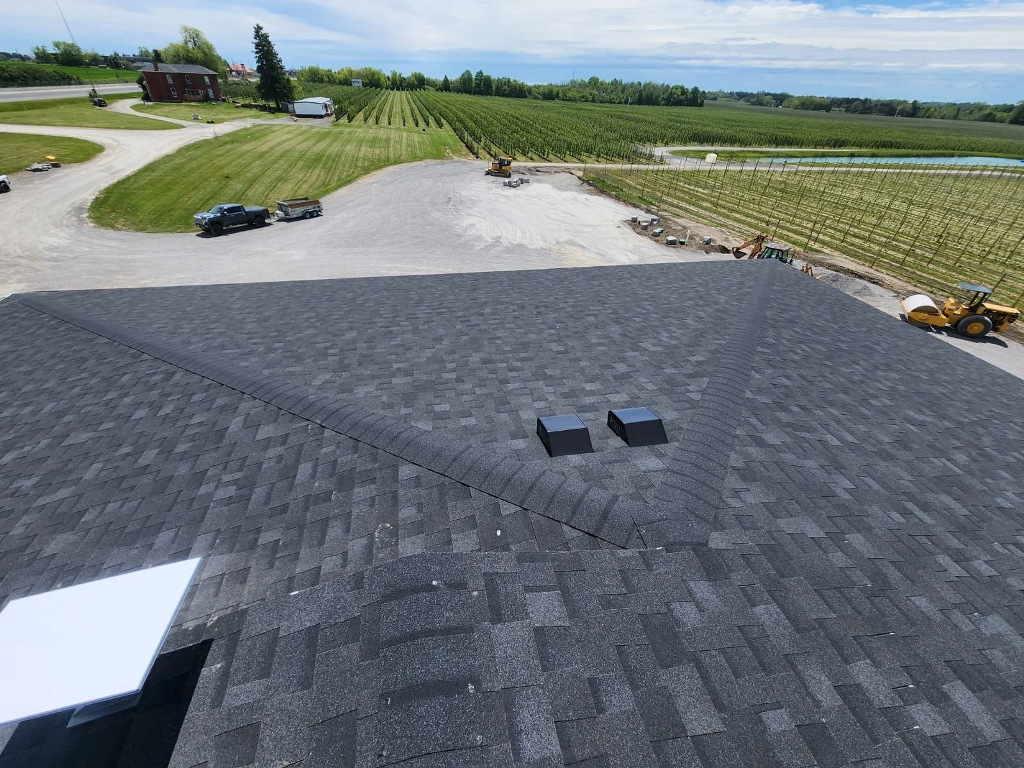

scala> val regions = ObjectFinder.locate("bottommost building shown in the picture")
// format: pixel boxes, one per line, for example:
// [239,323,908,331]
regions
[0,258,1024,768]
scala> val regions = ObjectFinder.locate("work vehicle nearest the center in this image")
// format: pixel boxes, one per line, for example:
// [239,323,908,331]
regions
[486,160,512,178]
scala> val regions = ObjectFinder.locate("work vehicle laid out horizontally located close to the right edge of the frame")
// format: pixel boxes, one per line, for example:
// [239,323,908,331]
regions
[901,290,1024,338]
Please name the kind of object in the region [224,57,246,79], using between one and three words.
building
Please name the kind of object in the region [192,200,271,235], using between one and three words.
truck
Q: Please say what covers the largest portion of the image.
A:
buildings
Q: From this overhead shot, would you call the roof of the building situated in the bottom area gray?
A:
Yes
